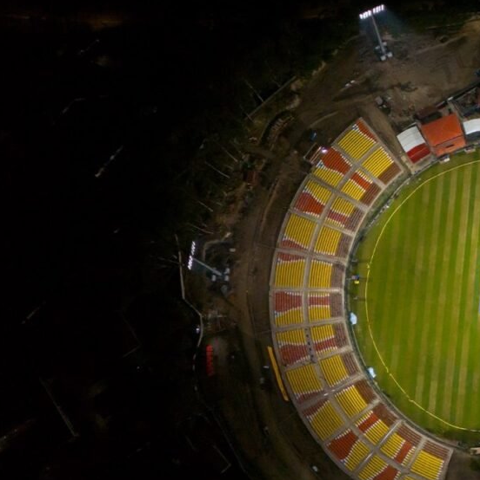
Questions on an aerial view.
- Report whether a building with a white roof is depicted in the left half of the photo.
No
